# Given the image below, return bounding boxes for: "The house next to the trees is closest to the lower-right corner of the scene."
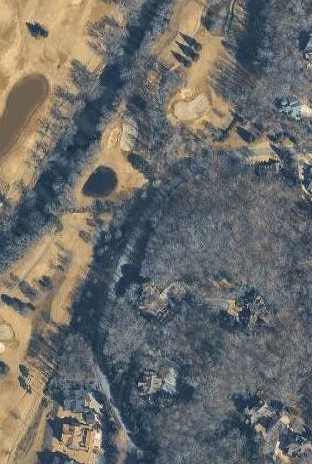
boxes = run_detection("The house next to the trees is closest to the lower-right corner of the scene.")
[279,427,312,458]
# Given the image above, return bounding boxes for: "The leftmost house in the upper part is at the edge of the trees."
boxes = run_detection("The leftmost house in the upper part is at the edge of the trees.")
[253,161,283,177]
